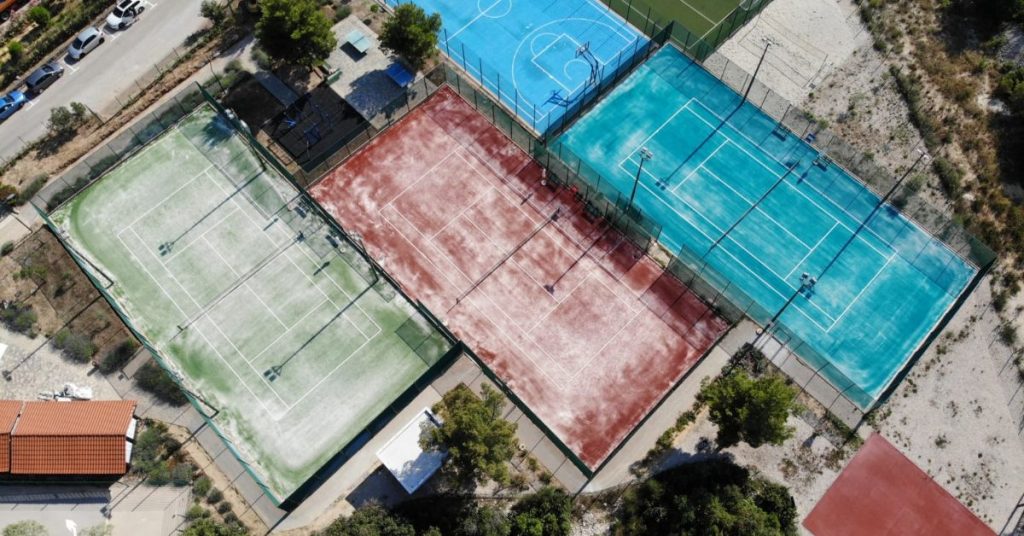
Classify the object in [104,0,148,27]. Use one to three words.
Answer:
car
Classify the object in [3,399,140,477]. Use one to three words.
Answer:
house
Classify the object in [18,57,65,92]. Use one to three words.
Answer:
car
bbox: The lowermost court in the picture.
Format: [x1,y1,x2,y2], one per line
[800,431,1001,536]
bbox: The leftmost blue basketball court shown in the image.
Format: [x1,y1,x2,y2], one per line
[377,0,650,136]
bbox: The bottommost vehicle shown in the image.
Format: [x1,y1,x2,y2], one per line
[0,86,26,120]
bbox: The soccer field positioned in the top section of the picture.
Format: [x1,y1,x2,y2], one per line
[610,0,768,63]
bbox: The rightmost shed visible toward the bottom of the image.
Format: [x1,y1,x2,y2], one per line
[377,409,445,493]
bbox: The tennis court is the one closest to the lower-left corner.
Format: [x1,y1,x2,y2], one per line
[43,103,446,493]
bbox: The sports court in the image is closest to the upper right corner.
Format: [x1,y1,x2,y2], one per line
[714,0,863,97]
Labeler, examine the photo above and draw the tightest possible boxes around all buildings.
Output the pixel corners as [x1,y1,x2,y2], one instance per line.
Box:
[377,409,445,493]
[3,399,140,477]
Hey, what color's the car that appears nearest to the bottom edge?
blue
